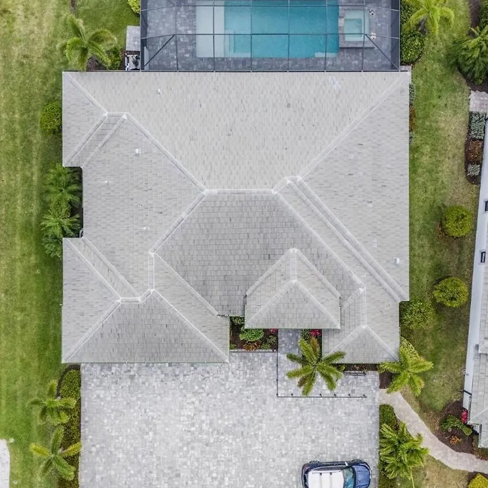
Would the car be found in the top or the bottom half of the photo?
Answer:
bottom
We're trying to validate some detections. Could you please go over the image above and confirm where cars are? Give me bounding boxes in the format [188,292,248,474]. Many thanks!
[302,457,372,488]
